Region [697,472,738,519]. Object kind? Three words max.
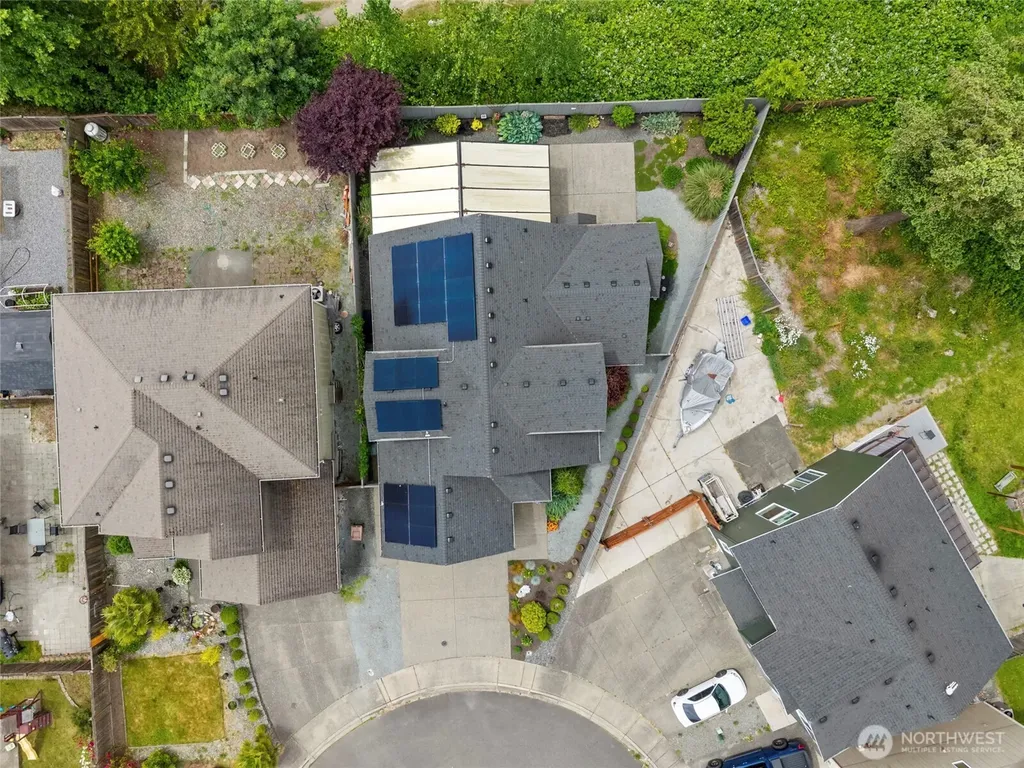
trailer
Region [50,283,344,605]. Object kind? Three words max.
house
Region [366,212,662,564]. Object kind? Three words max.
house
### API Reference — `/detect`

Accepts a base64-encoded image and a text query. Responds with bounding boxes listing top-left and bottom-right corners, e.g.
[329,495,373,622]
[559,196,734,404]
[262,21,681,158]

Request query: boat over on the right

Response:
[678,342,738,435]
